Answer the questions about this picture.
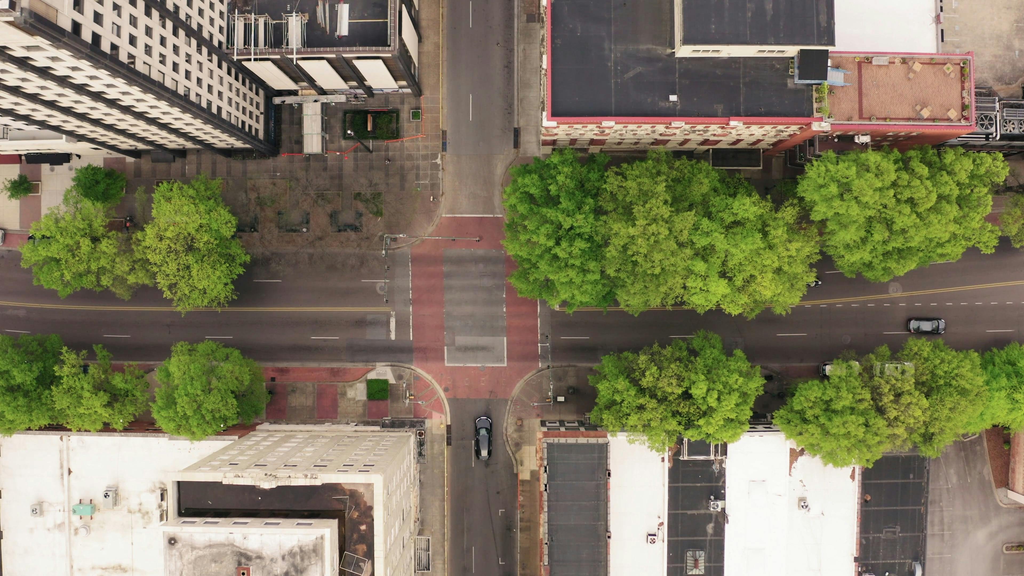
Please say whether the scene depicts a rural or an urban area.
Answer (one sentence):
This place is urban.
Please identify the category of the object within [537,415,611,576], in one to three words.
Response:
building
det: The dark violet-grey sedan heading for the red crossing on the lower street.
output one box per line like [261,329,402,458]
[474,417,493,460]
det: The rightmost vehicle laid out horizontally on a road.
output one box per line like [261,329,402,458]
[906,317,946,335]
